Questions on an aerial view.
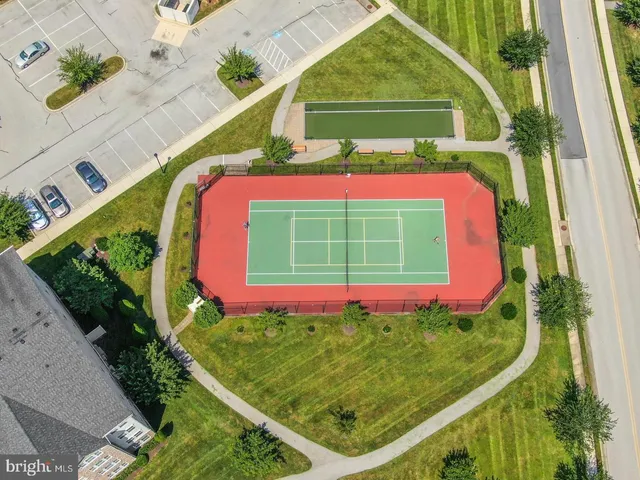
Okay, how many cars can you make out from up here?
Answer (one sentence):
The picture shows 4 cars.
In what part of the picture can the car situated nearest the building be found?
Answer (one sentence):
The car situated nearest the building is in the left part of the image.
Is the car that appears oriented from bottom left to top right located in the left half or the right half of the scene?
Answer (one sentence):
The car that appears oriented from bottom left to top right sits on the left side.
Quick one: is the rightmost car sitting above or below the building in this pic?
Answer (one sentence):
The position of the rightmost car is above the building.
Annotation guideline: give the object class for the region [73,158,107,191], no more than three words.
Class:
car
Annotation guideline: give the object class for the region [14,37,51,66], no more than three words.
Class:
car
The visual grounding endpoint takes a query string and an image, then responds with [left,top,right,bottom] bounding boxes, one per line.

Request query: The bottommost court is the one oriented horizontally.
[194,172,506,318]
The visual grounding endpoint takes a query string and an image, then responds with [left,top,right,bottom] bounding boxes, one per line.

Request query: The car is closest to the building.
[16,194,49,230]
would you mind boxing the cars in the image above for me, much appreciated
[73,158,107,191]
[14,37,51,66]
[16,194,49,230]
[36,183,69,218]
